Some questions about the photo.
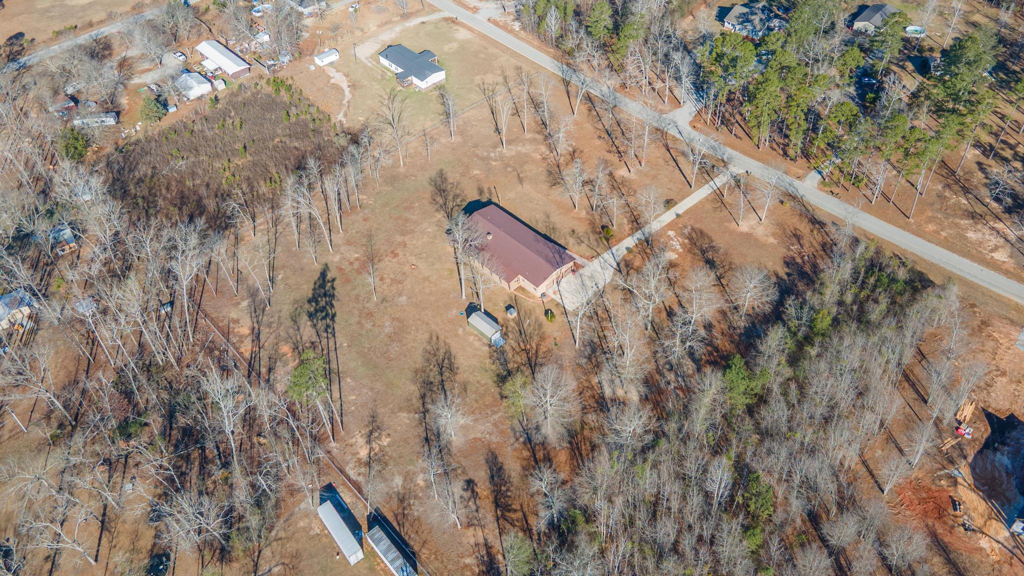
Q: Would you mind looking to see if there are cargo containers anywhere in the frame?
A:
Yes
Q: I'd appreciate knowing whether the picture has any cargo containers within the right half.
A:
No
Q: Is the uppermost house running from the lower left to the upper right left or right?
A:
right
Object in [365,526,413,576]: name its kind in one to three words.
shipping container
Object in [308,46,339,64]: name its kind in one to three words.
shed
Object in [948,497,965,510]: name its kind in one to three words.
vehicle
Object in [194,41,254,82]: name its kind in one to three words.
house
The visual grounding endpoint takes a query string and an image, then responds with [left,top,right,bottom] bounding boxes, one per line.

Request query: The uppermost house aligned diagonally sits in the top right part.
[853,0,893,33]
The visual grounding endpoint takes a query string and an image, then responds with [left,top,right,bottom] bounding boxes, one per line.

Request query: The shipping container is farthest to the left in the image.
[317,502,364,565]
